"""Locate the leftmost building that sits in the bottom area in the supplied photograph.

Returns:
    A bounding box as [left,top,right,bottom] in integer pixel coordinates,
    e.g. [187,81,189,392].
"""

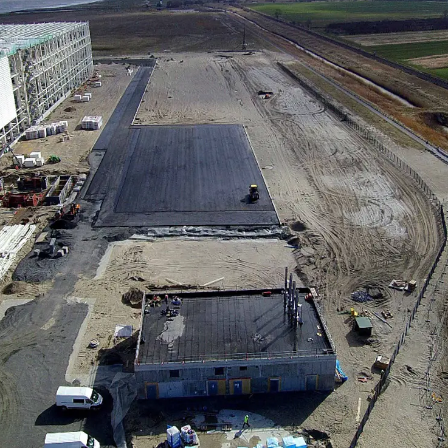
[133,280,340,397]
